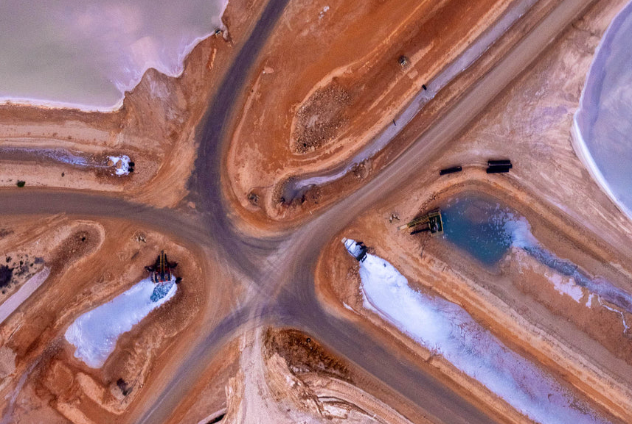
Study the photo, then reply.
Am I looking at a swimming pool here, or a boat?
swimming pool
